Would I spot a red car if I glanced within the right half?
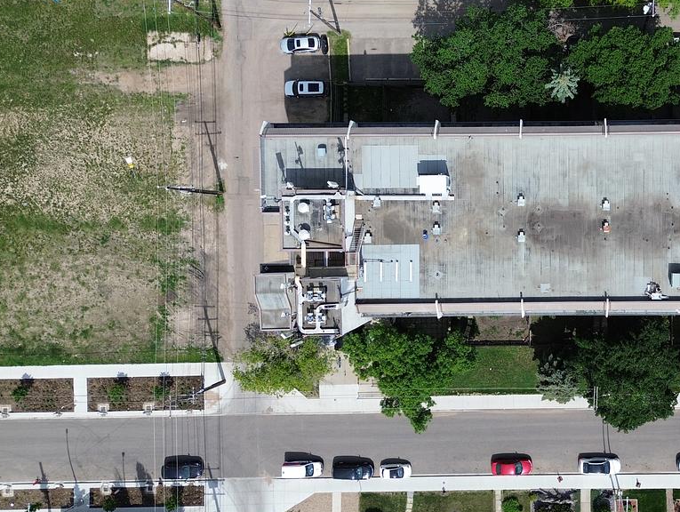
Yes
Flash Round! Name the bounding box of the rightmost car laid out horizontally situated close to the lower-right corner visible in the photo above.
[579,458,620,478]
